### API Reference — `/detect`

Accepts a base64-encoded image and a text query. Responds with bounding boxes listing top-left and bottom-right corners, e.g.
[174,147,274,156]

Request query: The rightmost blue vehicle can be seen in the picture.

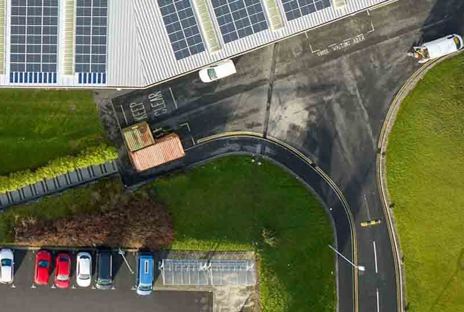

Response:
[134,248,155,294]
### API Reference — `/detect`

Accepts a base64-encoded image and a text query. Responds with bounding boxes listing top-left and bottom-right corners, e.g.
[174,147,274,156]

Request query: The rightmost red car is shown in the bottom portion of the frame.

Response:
[54,251,71,286]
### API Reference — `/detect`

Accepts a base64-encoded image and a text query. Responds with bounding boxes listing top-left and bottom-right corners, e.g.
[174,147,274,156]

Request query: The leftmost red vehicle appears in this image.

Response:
[34,249,52,284]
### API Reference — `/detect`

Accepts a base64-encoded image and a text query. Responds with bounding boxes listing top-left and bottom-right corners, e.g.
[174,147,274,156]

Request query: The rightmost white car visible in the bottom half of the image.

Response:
[75,250,93,284]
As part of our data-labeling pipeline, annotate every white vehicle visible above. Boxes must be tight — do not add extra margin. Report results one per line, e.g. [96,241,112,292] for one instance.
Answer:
[75,250,93,284]
[408,33,464,70]
[0,247,15,284]
[196,58,239,85]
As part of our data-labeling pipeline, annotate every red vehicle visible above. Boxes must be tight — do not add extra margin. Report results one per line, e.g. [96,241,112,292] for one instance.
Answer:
[34,249,52,284]
[54,251,71,286]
